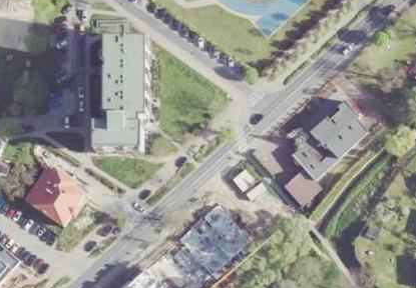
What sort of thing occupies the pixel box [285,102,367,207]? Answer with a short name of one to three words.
building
